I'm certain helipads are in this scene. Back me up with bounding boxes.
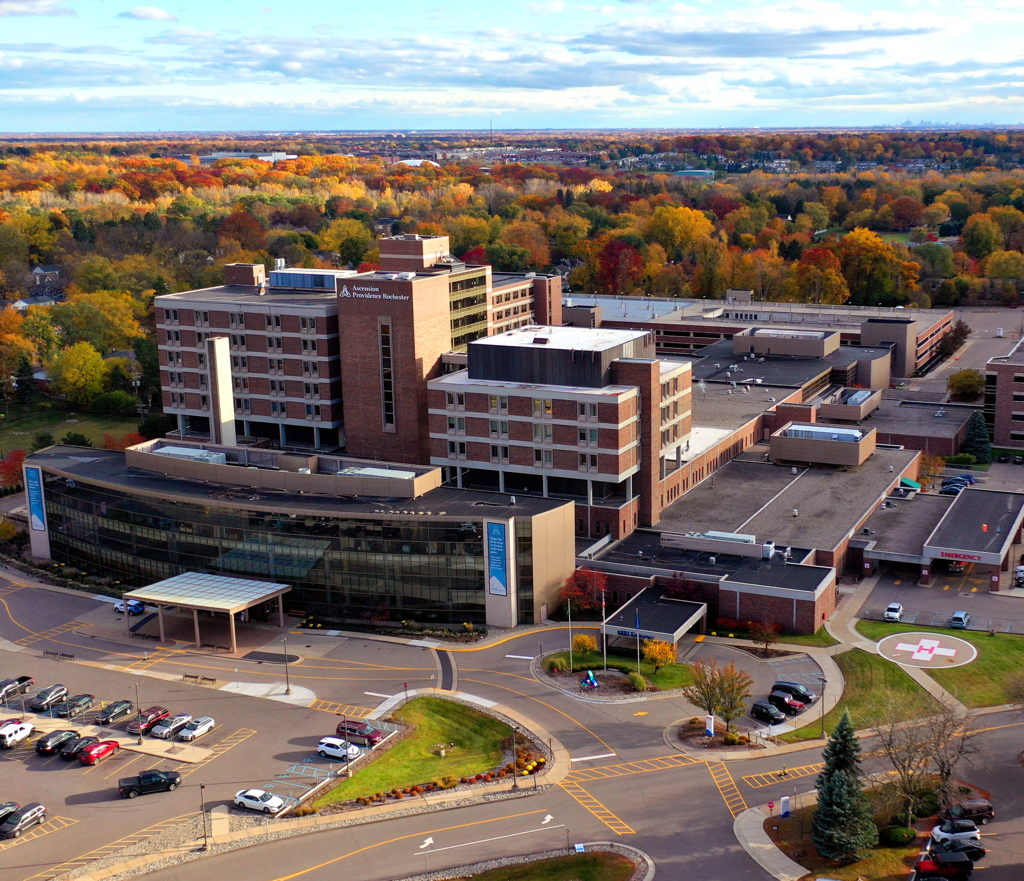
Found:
[875,630,980,669]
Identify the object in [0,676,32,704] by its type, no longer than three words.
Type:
truck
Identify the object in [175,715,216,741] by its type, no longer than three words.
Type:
car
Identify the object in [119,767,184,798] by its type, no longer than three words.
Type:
truck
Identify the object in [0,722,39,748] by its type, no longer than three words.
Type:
car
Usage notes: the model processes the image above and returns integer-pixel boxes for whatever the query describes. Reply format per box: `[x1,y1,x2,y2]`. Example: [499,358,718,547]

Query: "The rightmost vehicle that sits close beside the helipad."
[950,609,971,627]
